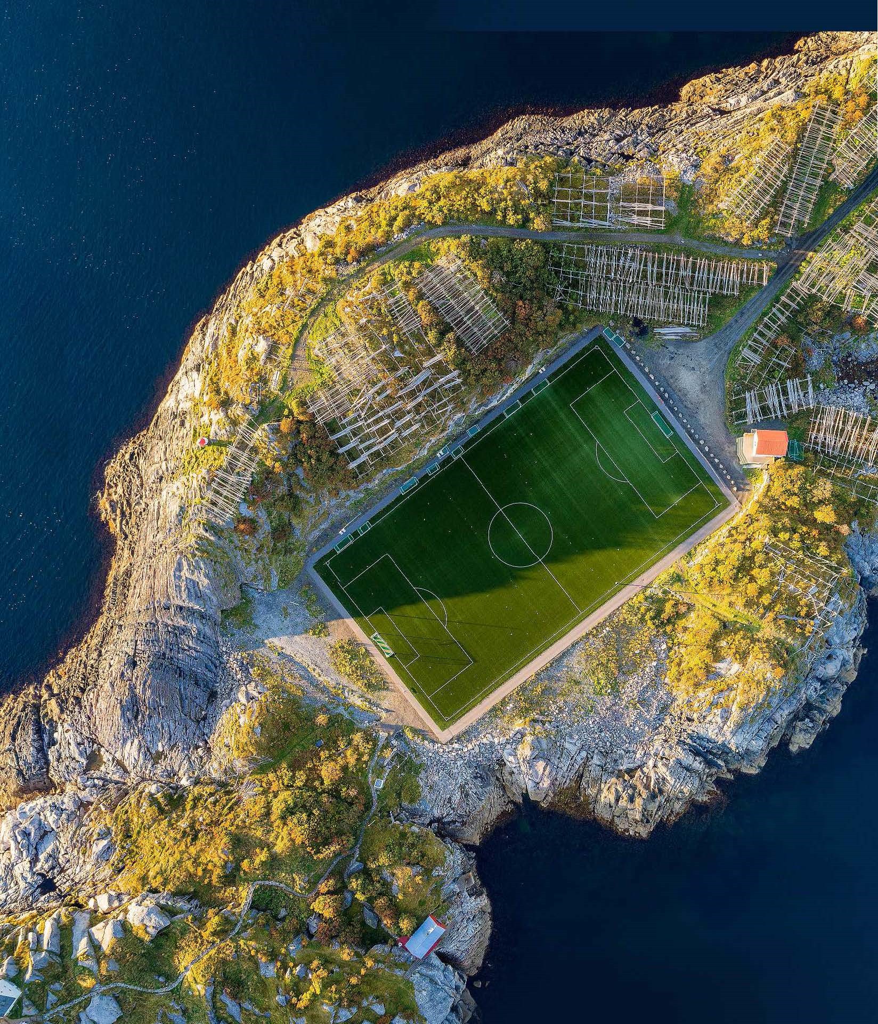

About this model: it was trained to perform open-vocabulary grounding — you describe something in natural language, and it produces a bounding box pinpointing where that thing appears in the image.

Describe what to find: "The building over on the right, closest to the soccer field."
[737,430,790,468]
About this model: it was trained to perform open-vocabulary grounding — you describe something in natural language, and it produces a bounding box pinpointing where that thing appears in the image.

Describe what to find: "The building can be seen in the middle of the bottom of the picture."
[402,912,445,956]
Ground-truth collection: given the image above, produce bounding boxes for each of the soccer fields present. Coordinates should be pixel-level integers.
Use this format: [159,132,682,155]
[313,338,730,731]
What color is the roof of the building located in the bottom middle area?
blue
